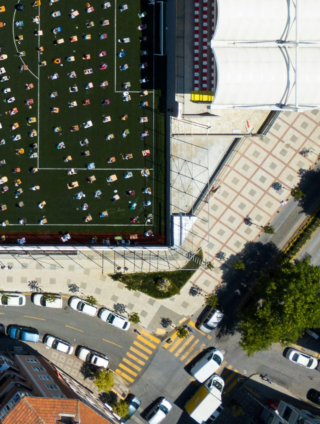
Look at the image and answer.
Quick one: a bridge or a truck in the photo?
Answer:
truck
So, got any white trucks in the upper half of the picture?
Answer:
No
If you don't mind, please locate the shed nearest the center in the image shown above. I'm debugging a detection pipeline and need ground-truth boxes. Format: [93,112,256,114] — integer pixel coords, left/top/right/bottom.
[165,203,200,248]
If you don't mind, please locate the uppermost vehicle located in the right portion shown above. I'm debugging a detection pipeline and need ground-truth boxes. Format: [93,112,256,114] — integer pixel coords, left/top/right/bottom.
[197,306,225,338]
